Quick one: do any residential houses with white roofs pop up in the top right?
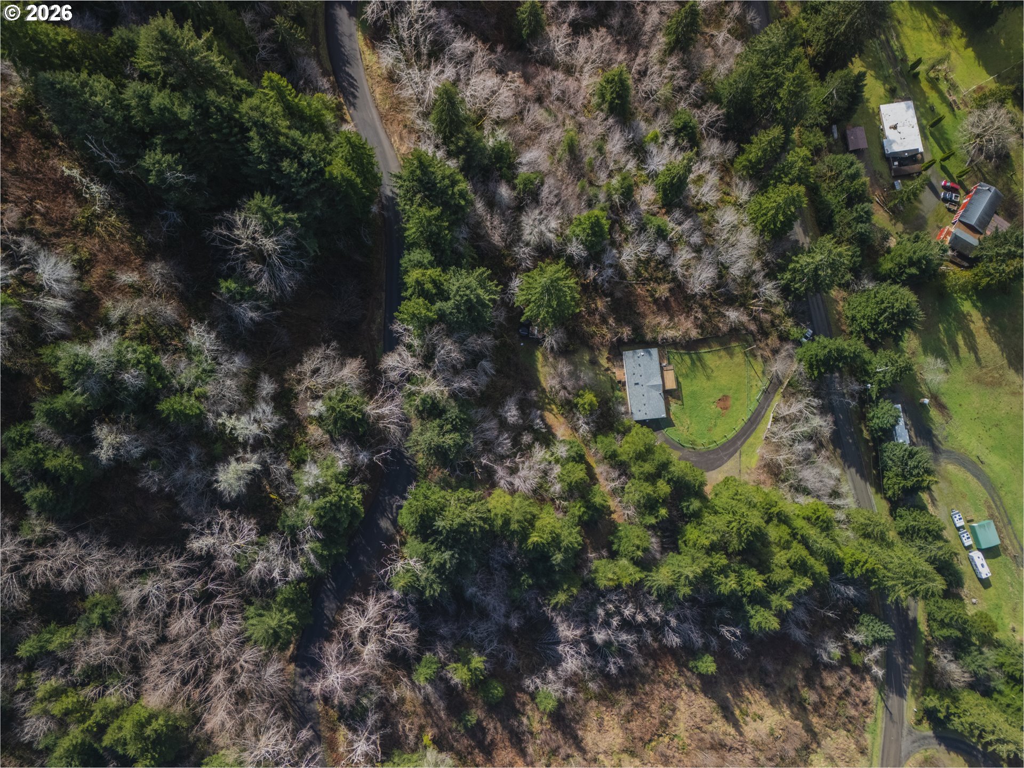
Yes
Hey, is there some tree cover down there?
Yes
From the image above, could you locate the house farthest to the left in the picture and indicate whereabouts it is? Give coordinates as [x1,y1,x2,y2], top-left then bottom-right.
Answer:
[623,348,667,421]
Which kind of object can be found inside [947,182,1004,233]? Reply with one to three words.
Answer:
barn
